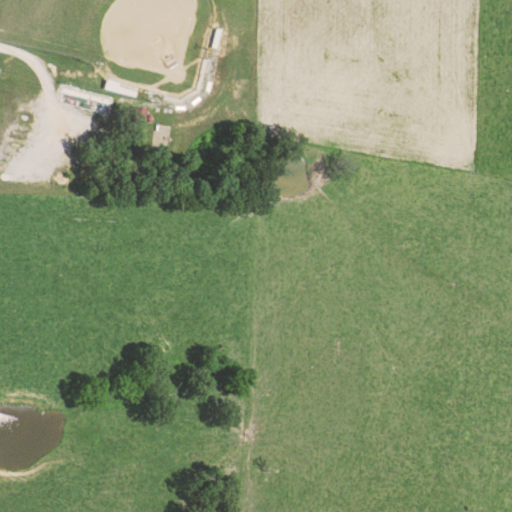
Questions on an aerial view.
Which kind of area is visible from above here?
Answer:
farmland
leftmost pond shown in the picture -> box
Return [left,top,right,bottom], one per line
[0,405,64,469]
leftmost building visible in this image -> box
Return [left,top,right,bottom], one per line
[53,84,114,110]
